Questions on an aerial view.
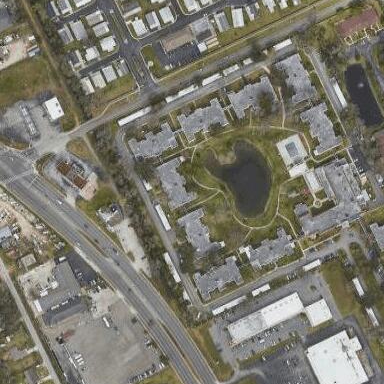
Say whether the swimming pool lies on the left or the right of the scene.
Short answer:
right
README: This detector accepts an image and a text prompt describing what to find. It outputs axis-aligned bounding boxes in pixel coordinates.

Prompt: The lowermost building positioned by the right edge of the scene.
[306,330,369,384]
